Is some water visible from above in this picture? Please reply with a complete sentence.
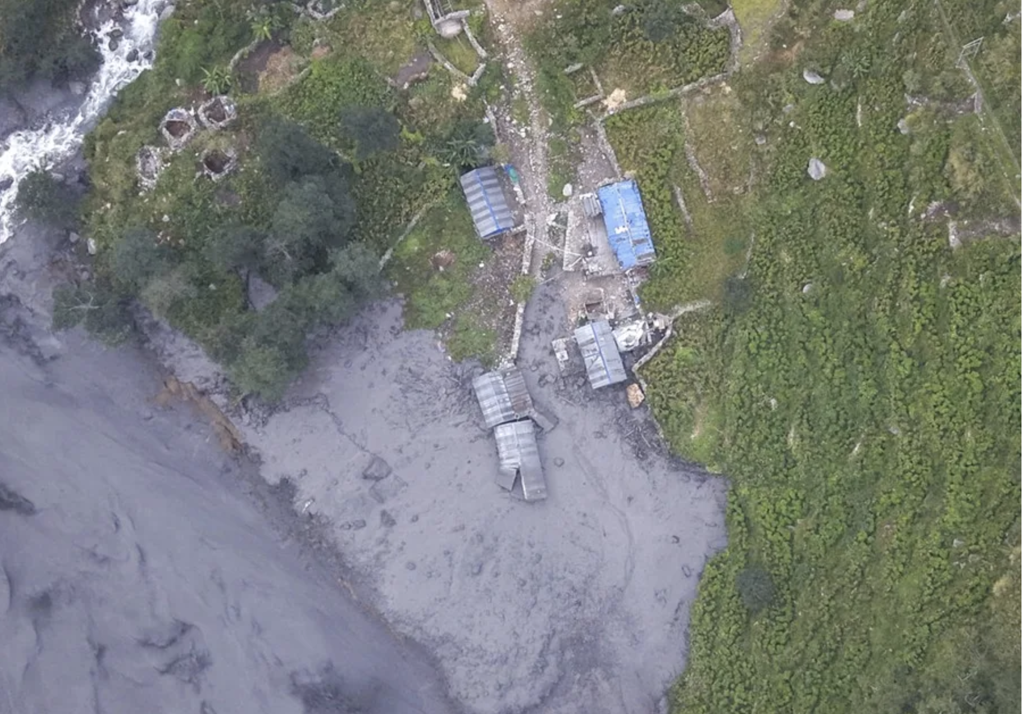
Yes, water can be seen from above here.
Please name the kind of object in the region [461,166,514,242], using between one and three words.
shed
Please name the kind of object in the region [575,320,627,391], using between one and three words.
shed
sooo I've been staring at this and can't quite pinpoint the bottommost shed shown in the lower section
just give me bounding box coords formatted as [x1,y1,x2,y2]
[494,421,546,500]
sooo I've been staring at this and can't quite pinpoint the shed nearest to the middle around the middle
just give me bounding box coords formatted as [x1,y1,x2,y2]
[472,369,533,429]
